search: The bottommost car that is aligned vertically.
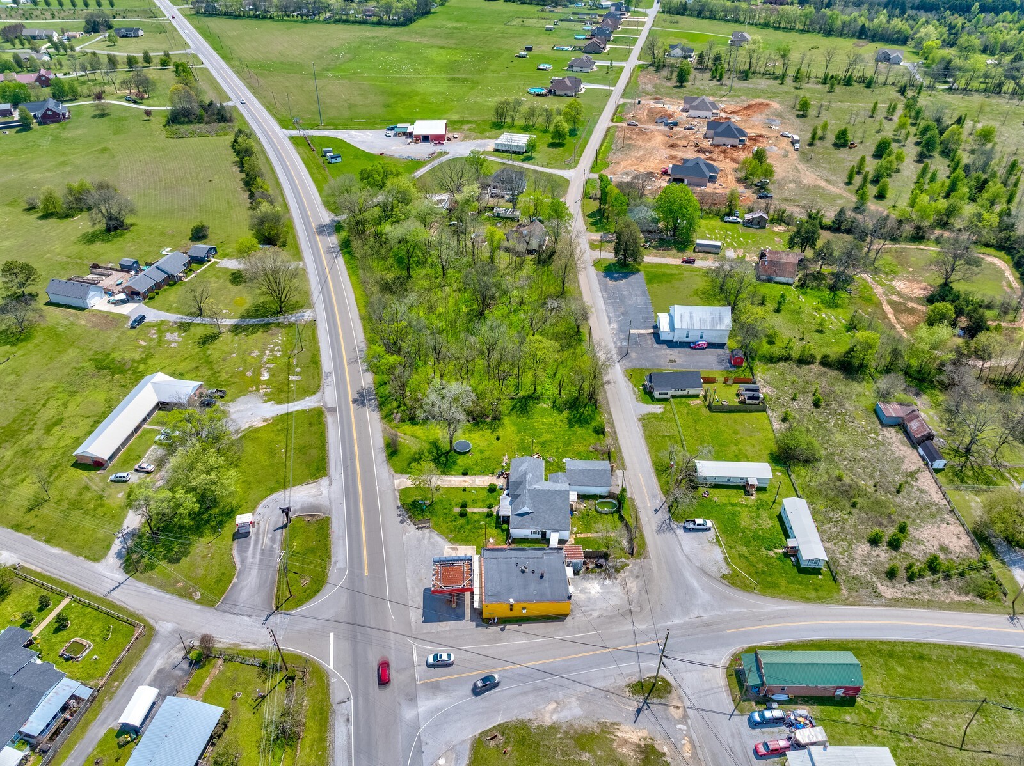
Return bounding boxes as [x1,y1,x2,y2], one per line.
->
[376,657,389,686]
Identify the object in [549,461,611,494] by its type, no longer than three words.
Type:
building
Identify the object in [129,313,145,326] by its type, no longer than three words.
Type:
vehicle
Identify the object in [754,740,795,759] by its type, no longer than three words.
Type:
vehicle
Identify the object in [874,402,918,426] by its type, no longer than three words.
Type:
barn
